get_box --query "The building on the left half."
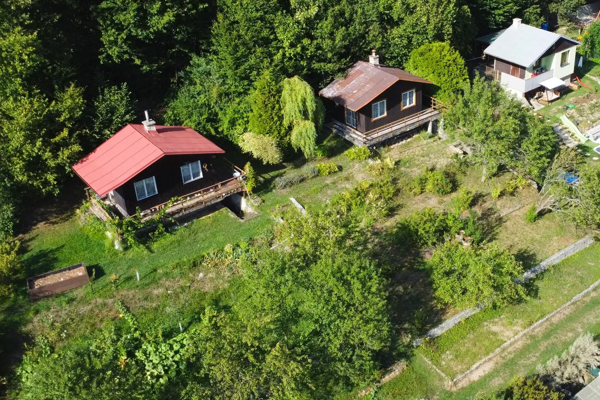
[72,102,267,242]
